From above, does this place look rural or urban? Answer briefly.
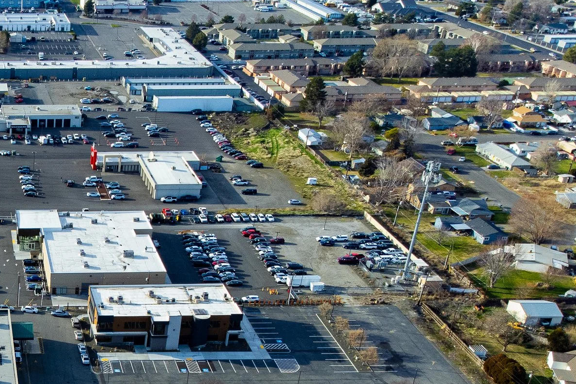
urban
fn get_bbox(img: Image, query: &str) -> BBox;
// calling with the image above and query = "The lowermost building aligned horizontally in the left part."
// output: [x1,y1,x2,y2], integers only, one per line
[86,284,246,350]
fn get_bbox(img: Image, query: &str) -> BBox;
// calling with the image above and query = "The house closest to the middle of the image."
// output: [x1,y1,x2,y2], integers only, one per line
[296,131,326,149]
